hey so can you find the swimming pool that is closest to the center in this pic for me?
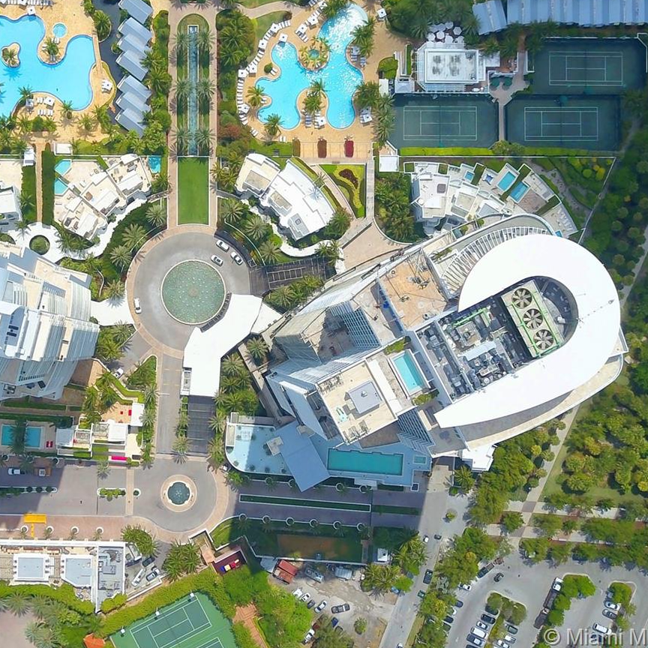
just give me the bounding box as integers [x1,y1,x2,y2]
[394,353,424,391]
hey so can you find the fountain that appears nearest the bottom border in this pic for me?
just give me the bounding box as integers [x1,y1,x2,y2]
[159,476,198,514]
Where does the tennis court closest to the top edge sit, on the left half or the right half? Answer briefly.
right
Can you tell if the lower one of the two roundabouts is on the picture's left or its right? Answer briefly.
left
